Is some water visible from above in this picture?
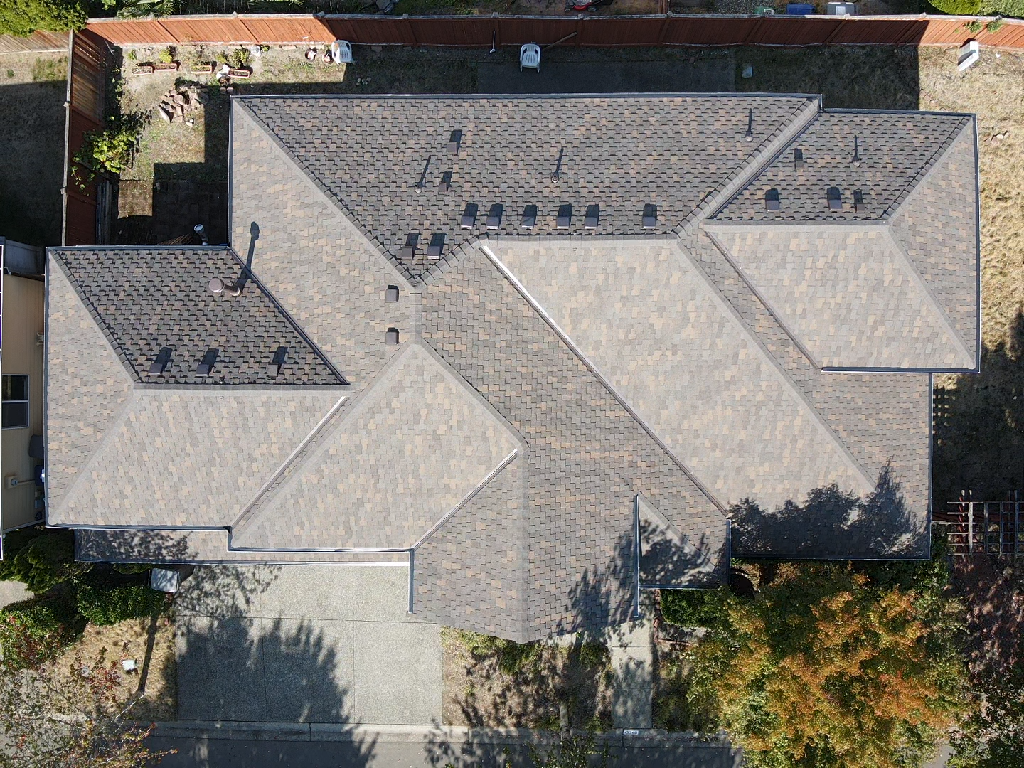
No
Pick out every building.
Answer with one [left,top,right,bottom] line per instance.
[42,94,980,646]
[0,246,44,564]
